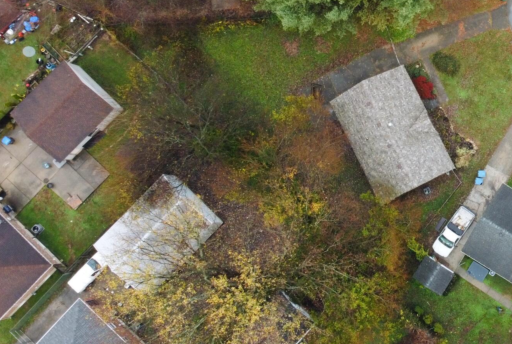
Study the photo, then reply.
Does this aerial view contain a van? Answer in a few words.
Yes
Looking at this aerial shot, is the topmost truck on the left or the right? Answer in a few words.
right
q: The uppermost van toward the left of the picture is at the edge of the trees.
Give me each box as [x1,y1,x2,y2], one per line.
[59,252,106,297]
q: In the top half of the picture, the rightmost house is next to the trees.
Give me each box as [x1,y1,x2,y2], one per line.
[329,64,455,207]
